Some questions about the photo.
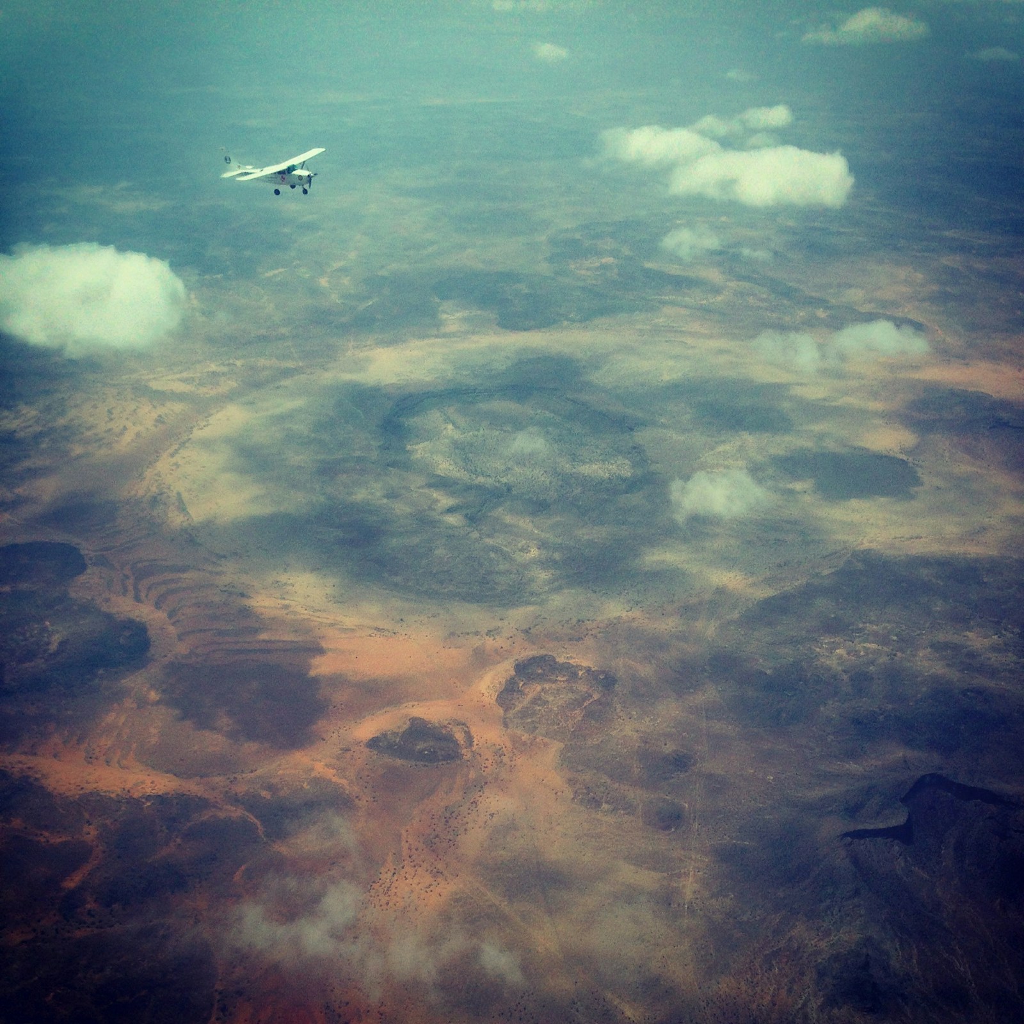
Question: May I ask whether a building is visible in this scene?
No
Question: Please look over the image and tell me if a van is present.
No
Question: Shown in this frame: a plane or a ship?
plane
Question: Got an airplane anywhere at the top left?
Yes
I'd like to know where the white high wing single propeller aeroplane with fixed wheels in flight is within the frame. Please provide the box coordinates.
[218,149,328,196]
